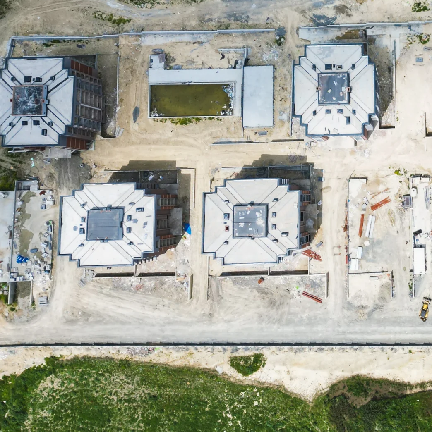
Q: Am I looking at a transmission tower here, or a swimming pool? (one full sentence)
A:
The image shows a swimming pool.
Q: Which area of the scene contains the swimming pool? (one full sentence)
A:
The swimming pool is located in the top region of the scene.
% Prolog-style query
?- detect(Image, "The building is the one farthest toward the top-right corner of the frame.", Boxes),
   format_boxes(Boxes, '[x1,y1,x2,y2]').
[291,42,381,149]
